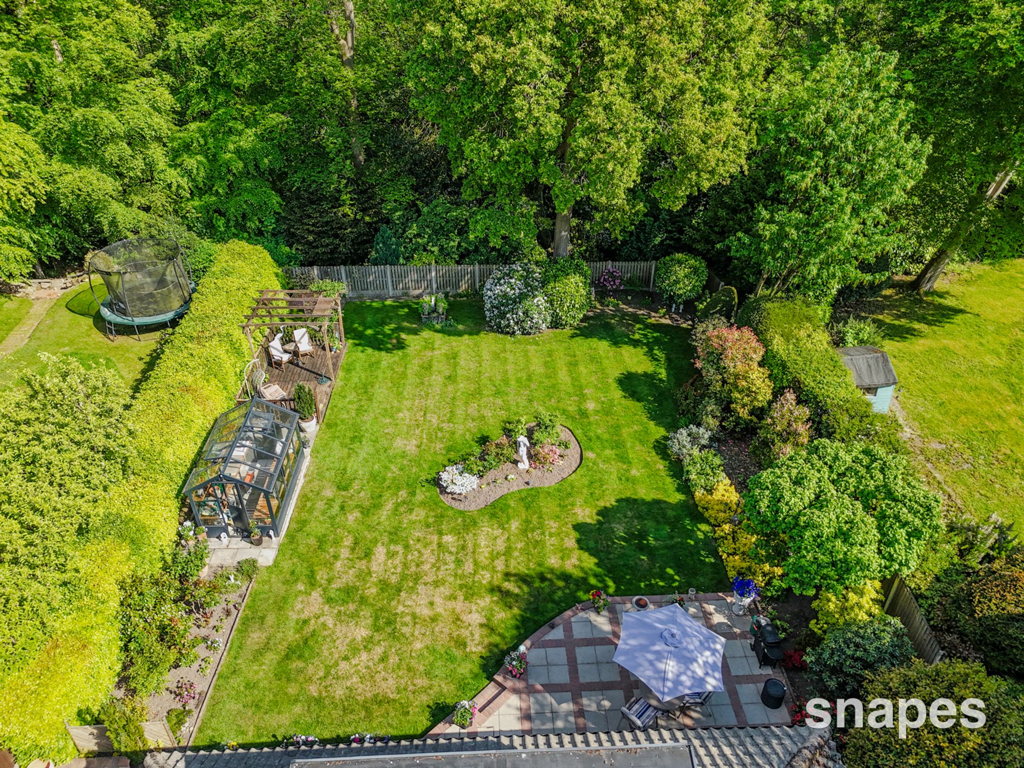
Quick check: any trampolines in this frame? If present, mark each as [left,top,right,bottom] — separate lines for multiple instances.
[82,239,197,346]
